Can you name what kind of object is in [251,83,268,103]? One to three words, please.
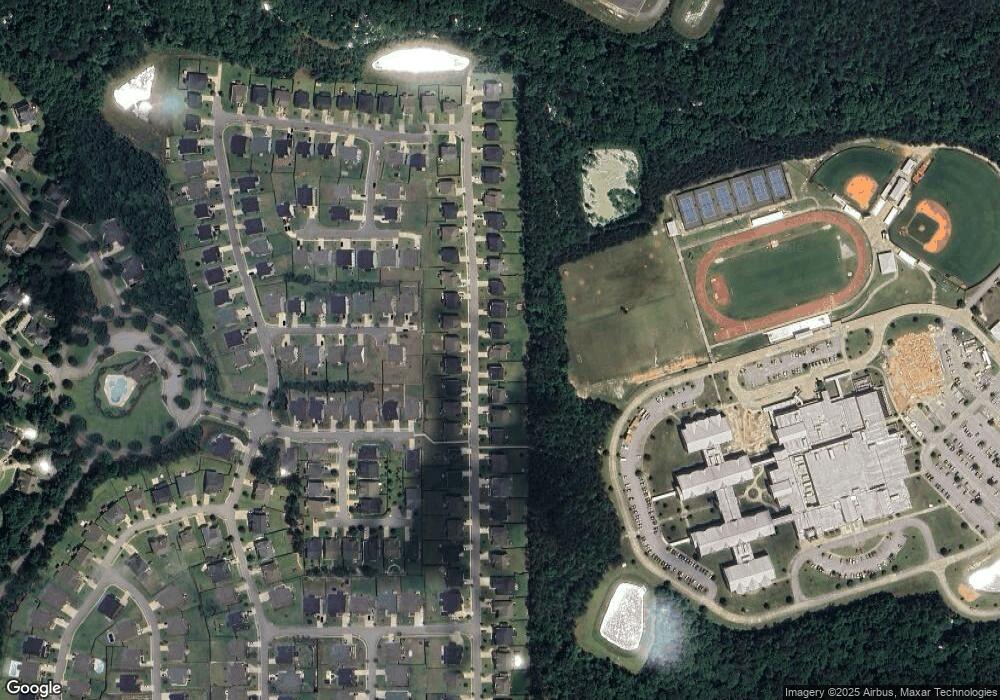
house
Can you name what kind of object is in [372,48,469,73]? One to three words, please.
pond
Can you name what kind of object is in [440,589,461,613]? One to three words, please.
house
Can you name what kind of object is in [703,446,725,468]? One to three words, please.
building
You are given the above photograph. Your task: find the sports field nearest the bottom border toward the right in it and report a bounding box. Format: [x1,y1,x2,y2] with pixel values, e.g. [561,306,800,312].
[705,219,857,313]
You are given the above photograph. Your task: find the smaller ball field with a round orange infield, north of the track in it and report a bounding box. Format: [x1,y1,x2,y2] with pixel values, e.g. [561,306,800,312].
[810,147,902,211]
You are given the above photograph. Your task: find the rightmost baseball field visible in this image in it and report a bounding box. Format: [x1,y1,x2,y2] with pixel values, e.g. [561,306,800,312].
[888,147,1000,288]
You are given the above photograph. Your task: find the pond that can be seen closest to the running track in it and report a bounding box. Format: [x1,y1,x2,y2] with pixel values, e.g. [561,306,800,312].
[581,149,640,224]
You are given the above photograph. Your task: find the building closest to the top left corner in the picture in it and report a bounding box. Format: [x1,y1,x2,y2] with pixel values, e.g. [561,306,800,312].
[15,100,40,126]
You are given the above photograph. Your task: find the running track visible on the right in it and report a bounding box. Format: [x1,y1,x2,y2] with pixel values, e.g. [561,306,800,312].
[696,210,866,328]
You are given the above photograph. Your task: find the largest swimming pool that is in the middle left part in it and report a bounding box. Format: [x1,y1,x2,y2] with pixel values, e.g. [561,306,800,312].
[104,375,137,407]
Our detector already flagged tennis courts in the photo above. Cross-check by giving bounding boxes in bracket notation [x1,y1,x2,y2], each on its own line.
[770,170,787,196]
[752,176,770,202]
[680,197,697,224]
[716,185,733,213]
[733,181,751,207]
[698,191,716,218]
